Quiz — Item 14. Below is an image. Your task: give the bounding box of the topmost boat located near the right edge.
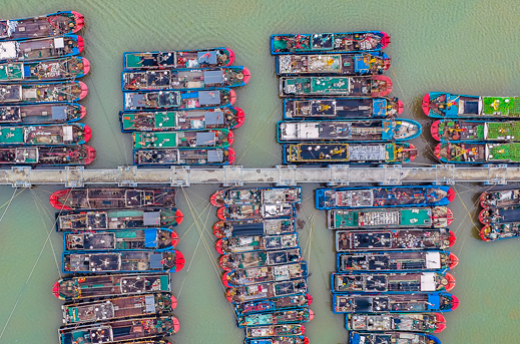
[422,93,520,120]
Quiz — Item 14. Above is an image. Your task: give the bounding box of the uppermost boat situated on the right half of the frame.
[268,30,390,56]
